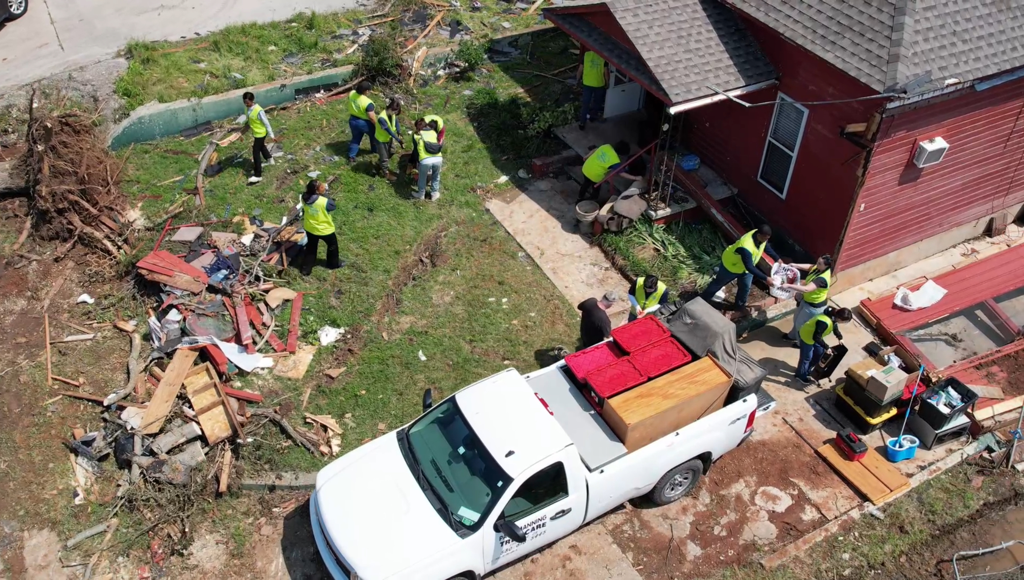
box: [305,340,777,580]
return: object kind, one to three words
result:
truck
